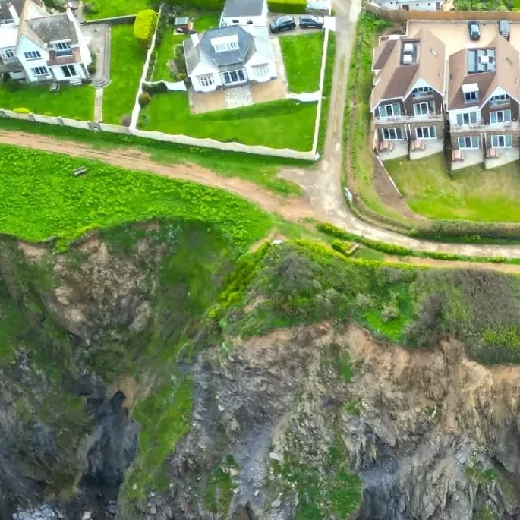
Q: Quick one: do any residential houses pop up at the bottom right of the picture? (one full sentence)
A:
No, I see no residential house at the bottom right of the picture.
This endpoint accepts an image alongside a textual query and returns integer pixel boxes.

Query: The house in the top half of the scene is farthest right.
[445,34,520,154]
